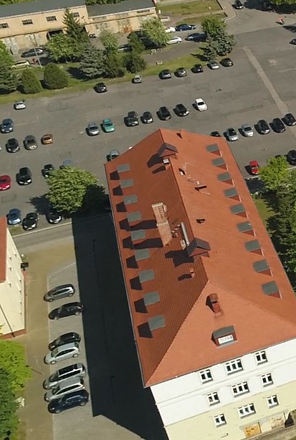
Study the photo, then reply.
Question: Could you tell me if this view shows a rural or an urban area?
urban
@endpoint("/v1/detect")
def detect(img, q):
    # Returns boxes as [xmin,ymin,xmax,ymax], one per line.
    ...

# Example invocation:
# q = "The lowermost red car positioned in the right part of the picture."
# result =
[248,161,261,175]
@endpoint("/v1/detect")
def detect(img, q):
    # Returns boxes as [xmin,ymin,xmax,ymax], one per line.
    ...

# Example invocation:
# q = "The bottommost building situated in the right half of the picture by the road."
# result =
[104,121,296,440]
